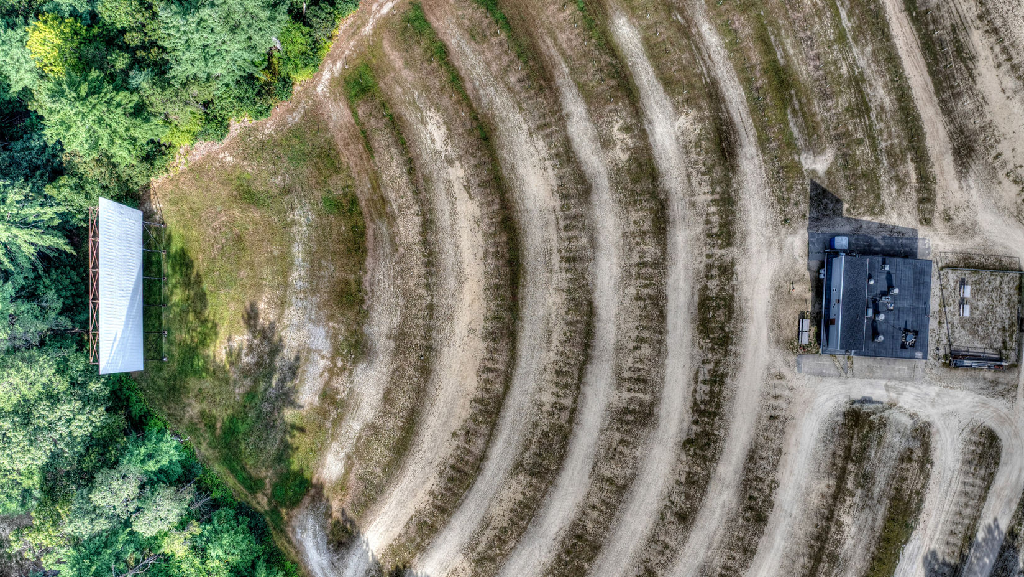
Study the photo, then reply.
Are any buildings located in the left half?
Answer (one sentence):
No, in the left half there is no building.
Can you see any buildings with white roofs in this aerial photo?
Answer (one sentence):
No, this view has no building with a white roof in it.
